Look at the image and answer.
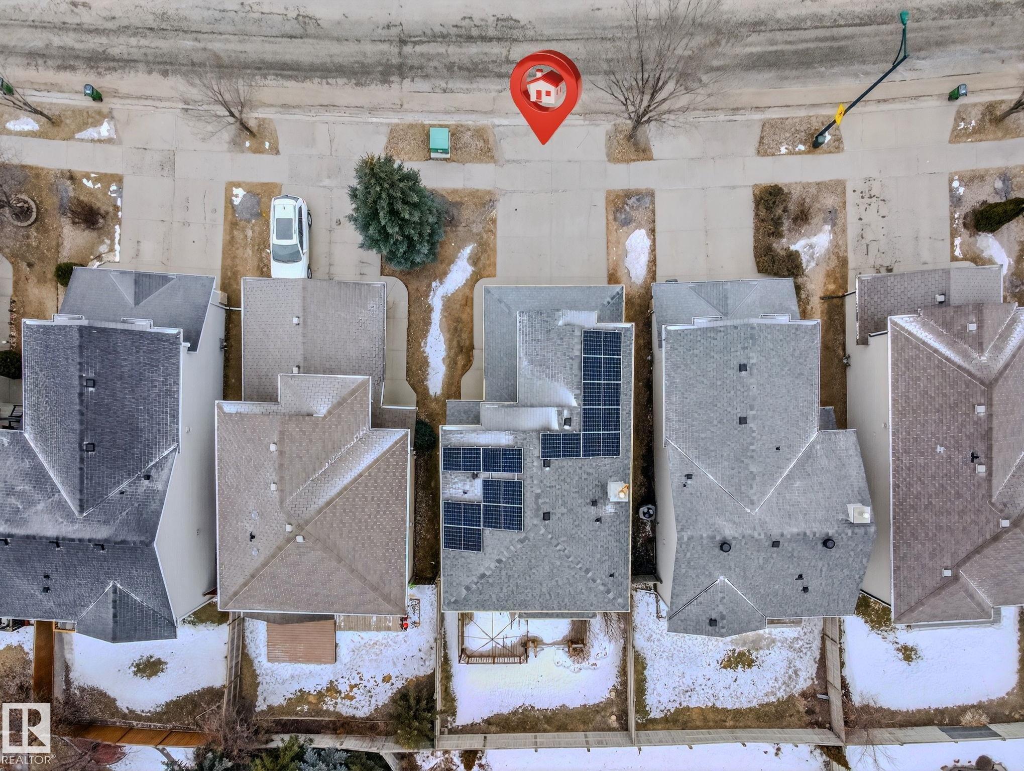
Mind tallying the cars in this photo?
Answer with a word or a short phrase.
1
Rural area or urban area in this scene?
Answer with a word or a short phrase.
urban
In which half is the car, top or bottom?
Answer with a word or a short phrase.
top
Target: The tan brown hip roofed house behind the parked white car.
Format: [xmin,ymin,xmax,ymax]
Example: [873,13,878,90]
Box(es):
[215,277,421,625]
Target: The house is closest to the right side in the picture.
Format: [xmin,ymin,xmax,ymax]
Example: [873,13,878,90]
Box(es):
[821,266,1024,626]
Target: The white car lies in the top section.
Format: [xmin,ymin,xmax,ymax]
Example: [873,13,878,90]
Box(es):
[266,197,310,279]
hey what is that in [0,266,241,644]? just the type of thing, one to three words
house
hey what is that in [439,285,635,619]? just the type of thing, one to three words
house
